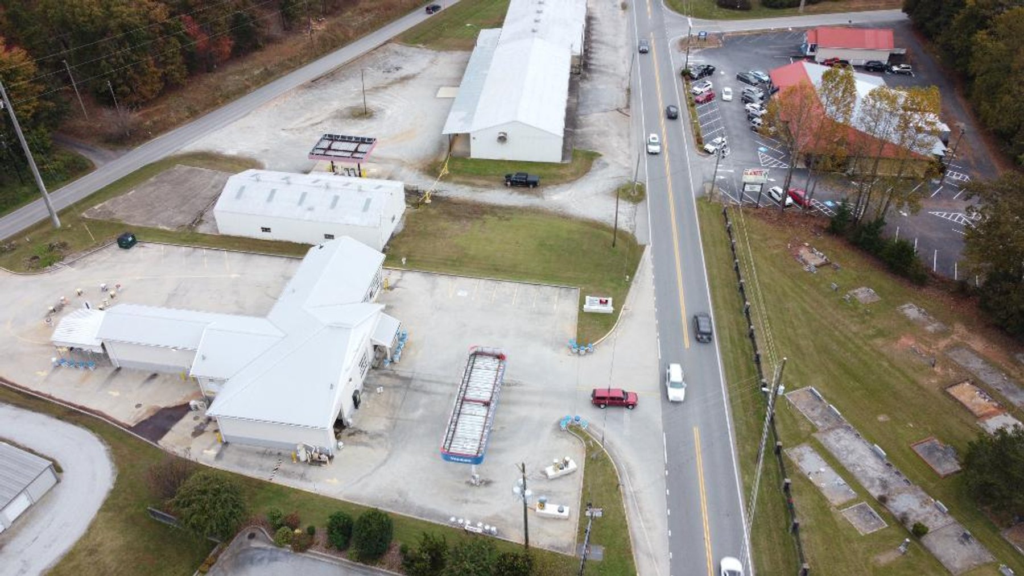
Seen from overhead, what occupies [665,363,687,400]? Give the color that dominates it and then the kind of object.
white car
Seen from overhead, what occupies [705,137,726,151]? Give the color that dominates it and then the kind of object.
white car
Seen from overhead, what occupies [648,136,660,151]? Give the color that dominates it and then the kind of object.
white vehicle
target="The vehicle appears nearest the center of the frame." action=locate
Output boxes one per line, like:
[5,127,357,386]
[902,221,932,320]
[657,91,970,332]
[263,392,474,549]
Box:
[506,172,539,186]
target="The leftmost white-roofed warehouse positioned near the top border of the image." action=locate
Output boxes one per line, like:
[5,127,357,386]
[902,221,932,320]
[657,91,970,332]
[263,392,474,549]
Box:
[443,0,587,162]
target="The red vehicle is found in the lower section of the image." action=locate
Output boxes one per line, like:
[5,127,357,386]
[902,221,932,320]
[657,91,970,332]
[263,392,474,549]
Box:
[592,384,637,407]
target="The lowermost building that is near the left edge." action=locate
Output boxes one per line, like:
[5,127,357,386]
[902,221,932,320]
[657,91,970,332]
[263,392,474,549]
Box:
[0,437,59,530]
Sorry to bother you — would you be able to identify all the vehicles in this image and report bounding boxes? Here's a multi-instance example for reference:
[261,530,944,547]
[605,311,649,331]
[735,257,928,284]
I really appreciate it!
[697,64,714,77]
[737,72,757,86]
[767,188,794,205]
[694,314,713,340]
[697,91,714,102]
[745,103,766,114]
[823,57,849,68]
[426,3,442,12]
[667,107,677,119]
[890,63,913,74]
[592,384,637,407]
[665,363,687,400]
[506,172,539,186]
[639,39,649,51]
[648,136,660,151]
[705,137,726,151]
[864,59,888,71]
[742,93,763,106]
[788,189,815,207]
[747,111,768,122]
[742,85,762,98]
[750,70,768,83]
[750,117,771,132]
[690,65,703,76]
[722,88,732,100]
